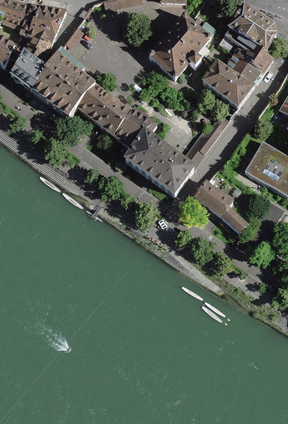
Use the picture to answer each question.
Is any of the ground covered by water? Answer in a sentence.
Yes, water shows up in the scene.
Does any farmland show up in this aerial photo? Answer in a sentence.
No, there is no farmland in the image.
